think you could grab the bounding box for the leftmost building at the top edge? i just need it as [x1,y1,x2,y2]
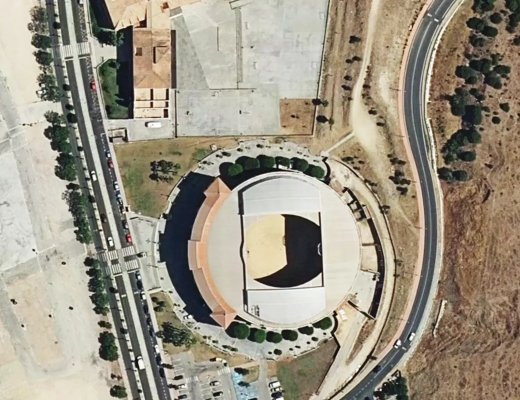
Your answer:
[105,0,147,29]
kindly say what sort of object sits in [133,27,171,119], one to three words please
house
